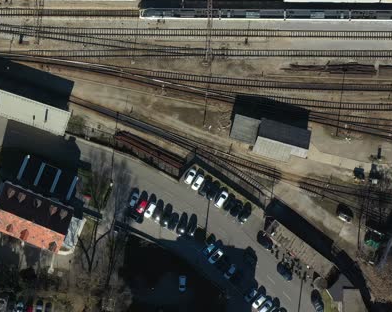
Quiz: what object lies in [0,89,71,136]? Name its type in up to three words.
building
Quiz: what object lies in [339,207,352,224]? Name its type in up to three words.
vehicle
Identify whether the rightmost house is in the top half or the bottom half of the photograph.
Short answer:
bottom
